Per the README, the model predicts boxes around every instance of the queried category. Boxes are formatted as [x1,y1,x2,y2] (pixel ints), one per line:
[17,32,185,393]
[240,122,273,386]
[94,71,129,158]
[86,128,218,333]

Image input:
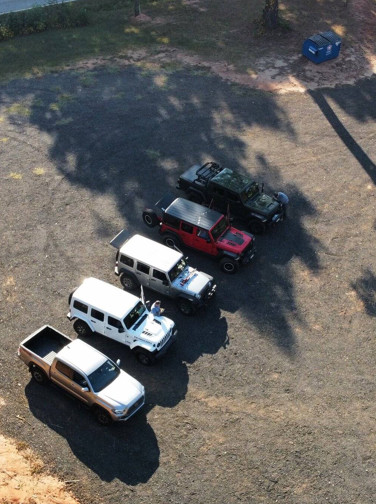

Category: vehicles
[141,191,263,276]
[13,321,153,428]
[70,273,185,366]
[112,226,224,316]
[174,159,286,234]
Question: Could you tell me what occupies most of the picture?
paved ground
